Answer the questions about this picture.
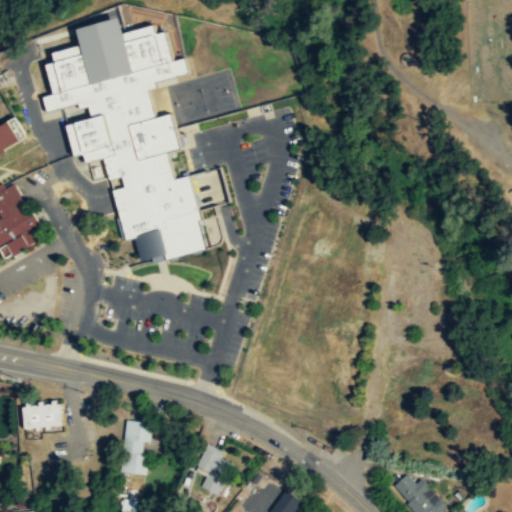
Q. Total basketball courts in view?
1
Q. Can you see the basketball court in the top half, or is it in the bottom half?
top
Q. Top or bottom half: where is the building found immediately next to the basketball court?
top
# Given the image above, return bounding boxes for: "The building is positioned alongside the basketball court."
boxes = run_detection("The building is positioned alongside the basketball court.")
[42,18,206,262]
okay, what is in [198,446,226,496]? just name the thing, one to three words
house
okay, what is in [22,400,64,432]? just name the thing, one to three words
house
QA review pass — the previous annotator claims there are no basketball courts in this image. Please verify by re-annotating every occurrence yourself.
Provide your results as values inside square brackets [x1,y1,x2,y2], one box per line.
[167,68,242,126]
